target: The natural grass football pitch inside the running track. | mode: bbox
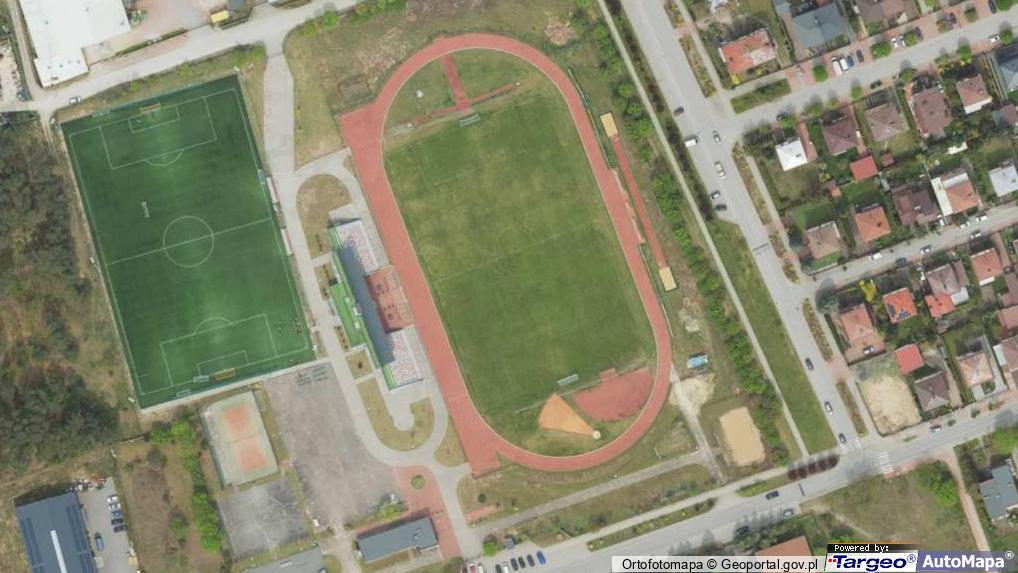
[384,87,650,412]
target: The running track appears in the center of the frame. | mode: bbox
[342,34,669,474]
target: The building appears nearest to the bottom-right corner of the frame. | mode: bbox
[980,466,1018,517]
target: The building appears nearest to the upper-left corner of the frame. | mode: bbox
[25,0,134,86]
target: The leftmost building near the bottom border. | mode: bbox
[12,492,96,573]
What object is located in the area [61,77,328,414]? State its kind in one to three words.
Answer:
soccer field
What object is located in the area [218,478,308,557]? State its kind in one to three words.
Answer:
basketball court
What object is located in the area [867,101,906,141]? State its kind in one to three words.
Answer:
house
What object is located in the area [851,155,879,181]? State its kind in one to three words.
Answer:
shed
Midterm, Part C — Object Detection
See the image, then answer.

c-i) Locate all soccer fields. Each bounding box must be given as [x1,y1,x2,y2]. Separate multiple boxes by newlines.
[61,77,328,414]
[384,87,650,412]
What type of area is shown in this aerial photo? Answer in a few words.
sports ground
